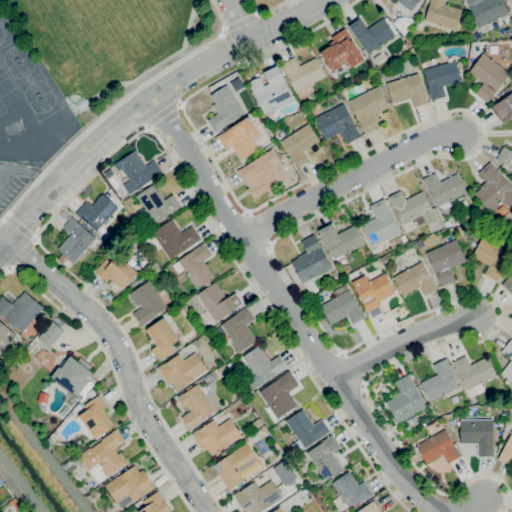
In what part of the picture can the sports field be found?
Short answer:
top left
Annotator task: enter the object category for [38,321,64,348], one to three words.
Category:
building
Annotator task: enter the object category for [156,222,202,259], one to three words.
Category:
house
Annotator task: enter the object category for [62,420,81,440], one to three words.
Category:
swimming pool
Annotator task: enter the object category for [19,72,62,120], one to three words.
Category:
basketball court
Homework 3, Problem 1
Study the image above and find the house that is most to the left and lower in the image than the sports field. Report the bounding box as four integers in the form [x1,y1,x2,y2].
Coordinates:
[0,293,44,333]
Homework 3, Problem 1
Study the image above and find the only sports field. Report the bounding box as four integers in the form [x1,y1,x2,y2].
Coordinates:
[10,0,190,99]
